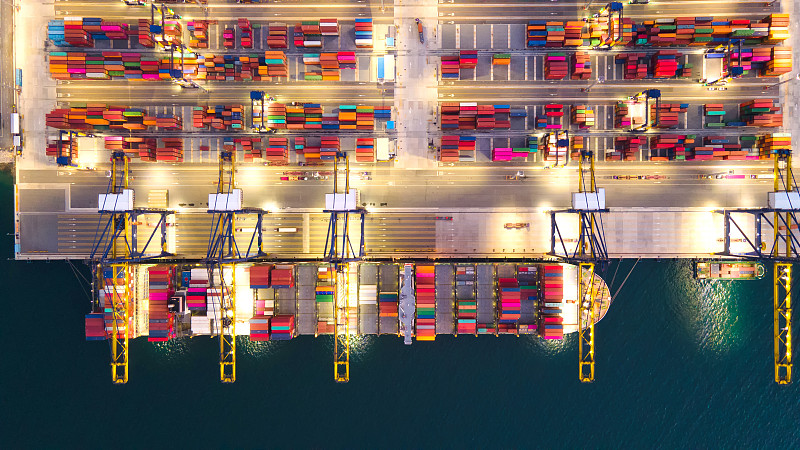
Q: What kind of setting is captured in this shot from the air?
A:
port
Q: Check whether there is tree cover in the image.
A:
No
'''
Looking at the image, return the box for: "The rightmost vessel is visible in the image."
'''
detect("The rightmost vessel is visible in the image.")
[694,261,766,280]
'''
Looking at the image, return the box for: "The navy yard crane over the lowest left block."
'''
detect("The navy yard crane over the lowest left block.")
[57,129,94,172]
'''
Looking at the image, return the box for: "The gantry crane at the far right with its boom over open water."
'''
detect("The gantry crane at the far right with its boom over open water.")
[712,151,800,384]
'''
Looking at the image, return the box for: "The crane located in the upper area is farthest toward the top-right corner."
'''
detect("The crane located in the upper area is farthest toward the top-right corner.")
[706,39,743,88]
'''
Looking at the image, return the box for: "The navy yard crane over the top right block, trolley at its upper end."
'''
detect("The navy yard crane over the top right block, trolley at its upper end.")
[594,0,623,54]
